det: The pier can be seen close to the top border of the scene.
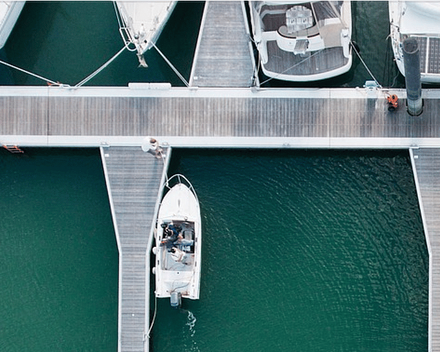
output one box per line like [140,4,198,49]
[188,0,258,88]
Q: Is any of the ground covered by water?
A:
Yes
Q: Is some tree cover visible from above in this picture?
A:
No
